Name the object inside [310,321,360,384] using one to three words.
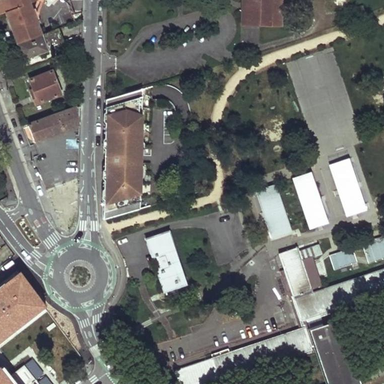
building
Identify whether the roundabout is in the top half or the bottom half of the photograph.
bottom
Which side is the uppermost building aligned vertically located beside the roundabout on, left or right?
left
